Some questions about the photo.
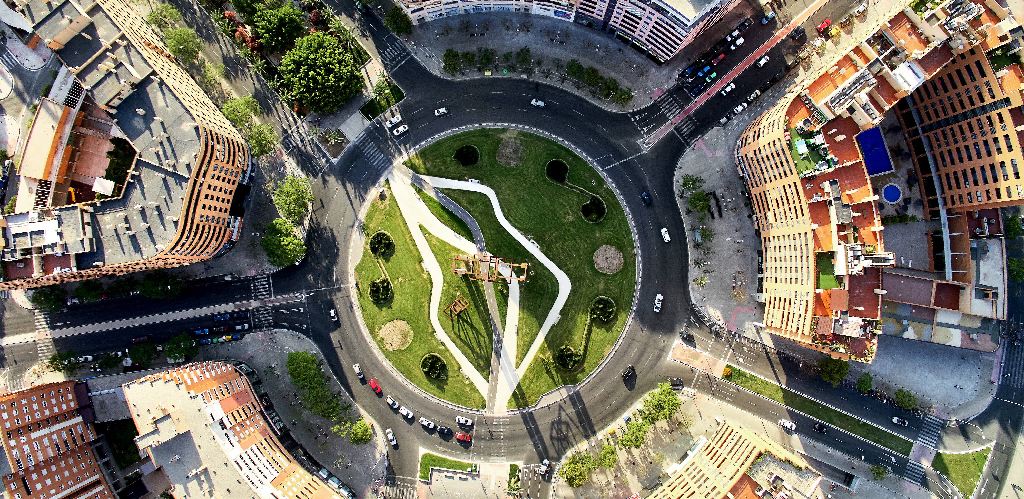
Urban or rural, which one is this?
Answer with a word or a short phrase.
urban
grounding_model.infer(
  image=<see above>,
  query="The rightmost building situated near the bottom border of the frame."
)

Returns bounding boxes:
[665,422,824,499]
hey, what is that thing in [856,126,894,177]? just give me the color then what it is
blue swimming pool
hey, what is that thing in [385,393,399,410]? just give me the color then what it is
white car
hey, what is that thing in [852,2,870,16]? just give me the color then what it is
white vehicle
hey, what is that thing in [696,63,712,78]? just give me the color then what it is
blue vehicle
